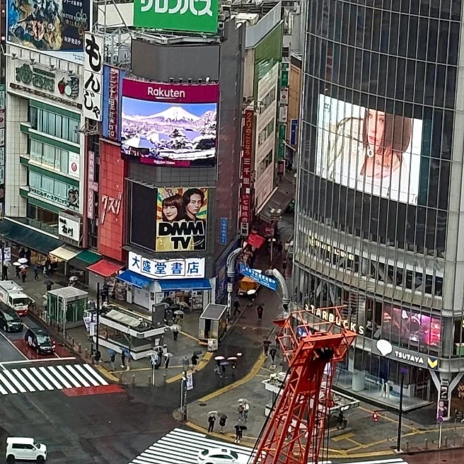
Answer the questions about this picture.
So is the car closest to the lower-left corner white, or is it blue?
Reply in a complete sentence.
From above, the car closest to the lower-left corner appears white.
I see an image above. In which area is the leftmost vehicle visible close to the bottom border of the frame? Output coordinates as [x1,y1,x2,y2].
[4,436,49,463]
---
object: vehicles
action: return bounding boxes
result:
[22,325,60,352]
[0,299,28,330]
[194,445,252,464]
[4,436,49,463]
[0,273,32,309]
